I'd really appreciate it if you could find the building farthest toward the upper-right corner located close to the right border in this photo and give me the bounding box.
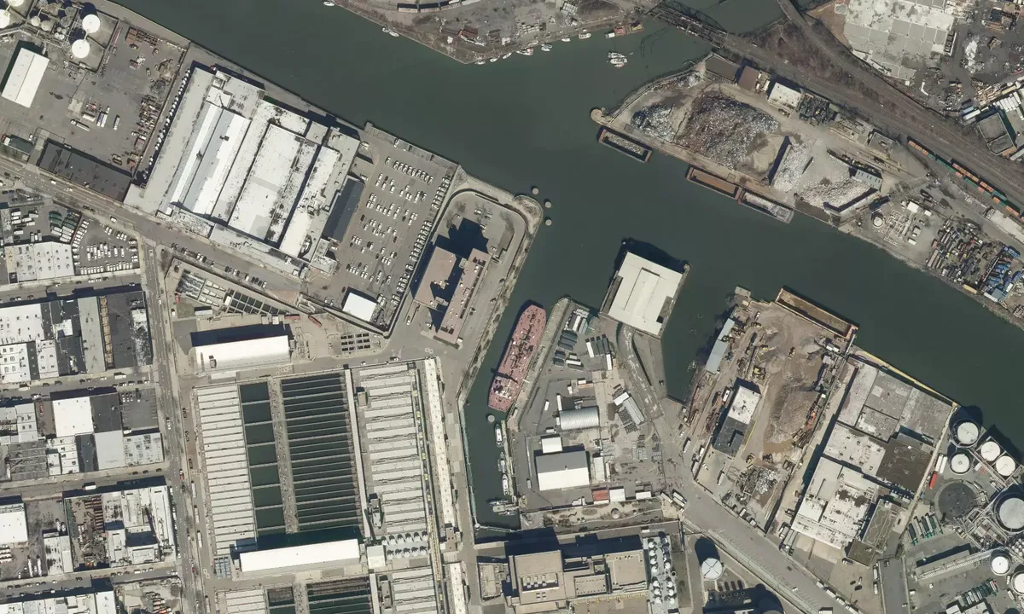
[977,113,1016,156]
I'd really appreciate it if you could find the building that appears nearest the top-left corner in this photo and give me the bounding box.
[2,47,50,108]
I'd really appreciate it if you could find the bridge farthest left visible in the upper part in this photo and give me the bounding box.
[643,0,736,60]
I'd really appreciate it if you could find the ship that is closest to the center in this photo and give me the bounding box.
[489,305,546,412]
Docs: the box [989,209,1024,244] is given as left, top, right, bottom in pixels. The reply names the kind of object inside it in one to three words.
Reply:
shed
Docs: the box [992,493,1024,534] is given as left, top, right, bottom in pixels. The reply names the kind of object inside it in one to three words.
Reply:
storage tank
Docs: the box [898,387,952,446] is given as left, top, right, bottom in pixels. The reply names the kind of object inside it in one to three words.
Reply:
building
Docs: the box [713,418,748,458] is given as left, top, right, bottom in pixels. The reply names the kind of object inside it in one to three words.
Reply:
building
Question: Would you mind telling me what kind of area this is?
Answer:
port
